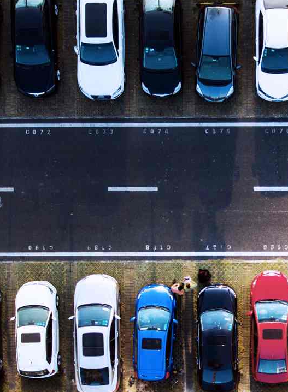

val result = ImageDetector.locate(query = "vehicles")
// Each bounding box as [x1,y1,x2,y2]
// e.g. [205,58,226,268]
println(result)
[4,0,59,98]
[68,274,121,392]
[6,282,60,378]
[252,0,288,101]
[133,0,182,97]
[69,0,124,101]
[192,4,240,103]
[192,285,241,391]
[127,284,176,381]
[246,270,288,383]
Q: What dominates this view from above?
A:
paved ground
